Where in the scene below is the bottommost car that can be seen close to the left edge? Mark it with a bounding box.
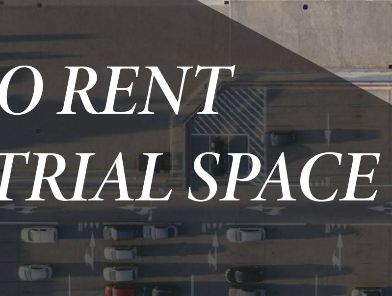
[19,263,53,281]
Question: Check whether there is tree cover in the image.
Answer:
No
